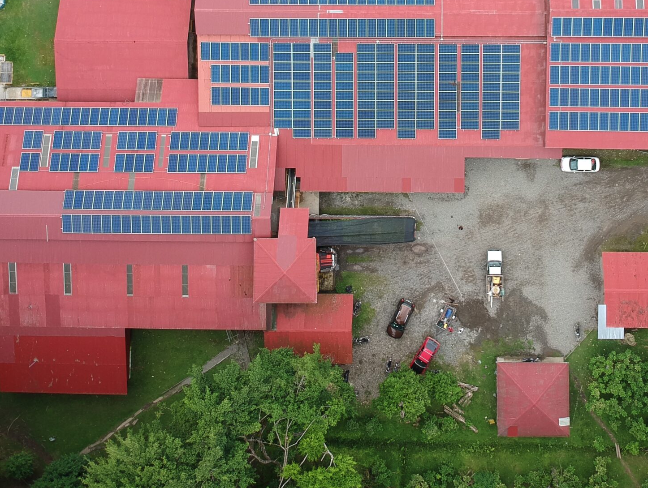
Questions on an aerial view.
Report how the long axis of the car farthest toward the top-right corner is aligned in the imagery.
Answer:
from left to right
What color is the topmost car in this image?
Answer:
white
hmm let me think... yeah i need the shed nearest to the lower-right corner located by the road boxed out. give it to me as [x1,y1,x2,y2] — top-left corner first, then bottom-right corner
[497,358,571,438]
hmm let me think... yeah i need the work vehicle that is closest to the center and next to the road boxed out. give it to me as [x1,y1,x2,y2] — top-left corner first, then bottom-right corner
[316,247,339,274]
